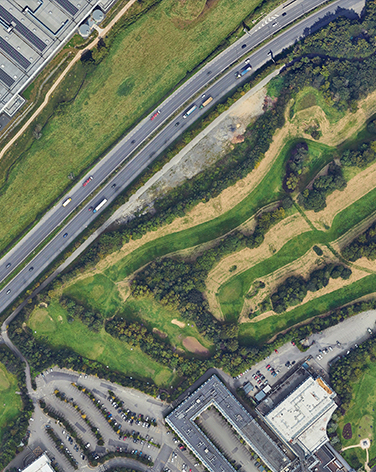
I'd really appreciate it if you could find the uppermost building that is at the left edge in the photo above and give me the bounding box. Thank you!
[0,0,119,116]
